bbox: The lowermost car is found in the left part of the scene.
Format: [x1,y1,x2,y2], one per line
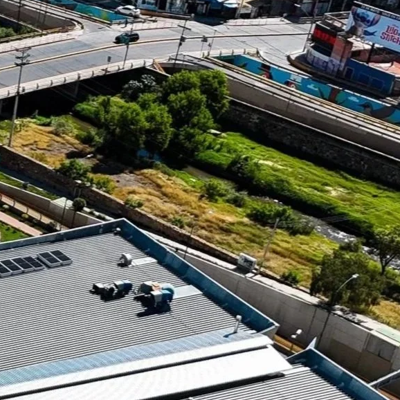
[112,28,141,47]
